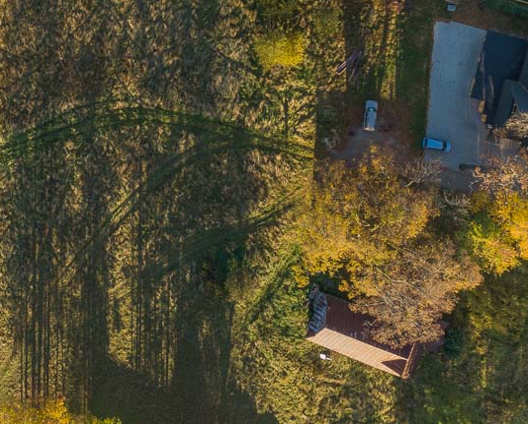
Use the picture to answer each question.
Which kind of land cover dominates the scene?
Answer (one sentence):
Most of the picture is covered by grass.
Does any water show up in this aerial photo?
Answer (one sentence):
No, there's no water in this view.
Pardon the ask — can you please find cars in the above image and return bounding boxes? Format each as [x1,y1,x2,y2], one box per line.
[364,101,377,131]
[421,136,448,150]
